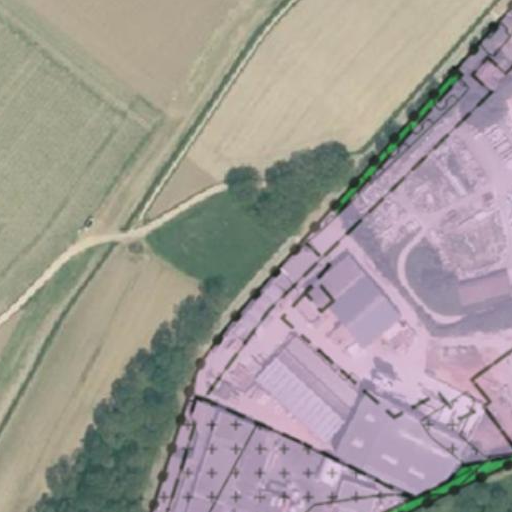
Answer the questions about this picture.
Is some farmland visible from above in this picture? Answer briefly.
Yes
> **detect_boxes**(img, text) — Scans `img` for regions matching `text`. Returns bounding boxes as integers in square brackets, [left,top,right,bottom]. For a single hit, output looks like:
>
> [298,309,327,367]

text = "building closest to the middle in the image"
[321,252,366,302]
